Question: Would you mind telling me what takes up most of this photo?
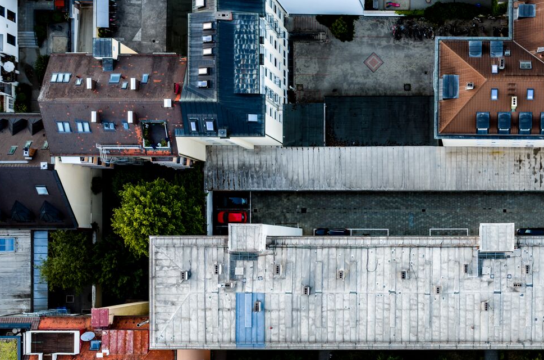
buildings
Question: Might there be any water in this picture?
No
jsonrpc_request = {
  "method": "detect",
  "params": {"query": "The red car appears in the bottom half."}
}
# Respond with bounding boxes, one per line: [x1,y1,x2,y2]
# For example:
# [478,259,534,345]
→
[217,209,249,225]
